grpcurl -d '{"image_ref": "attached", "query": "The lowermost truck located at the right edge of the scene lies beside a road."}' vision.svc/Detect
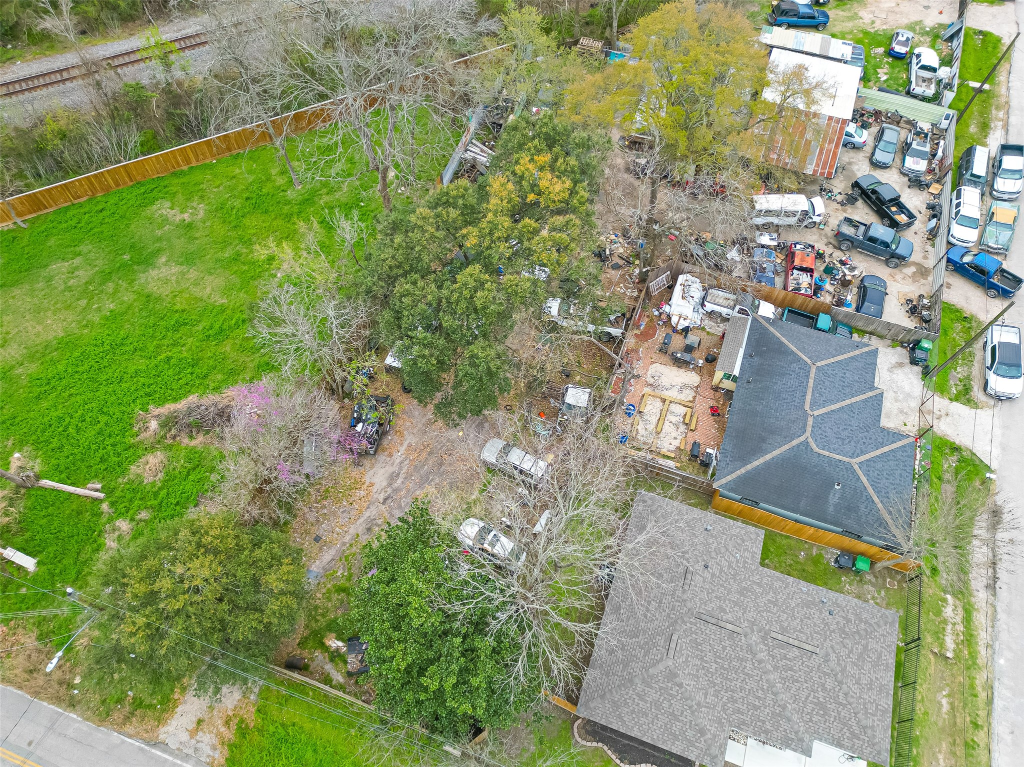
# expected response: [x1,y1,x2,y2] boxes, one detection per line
[983,323,1024,398]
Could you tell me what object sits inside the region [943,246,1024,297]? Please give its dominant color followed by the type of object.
blue truck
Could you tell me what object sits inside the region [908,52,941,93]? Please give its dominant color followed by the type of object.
white truck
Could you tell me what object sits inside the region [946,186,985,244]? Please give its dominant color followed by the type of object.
white car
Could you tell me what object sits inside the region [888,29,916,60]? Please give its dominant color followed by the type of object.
white car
